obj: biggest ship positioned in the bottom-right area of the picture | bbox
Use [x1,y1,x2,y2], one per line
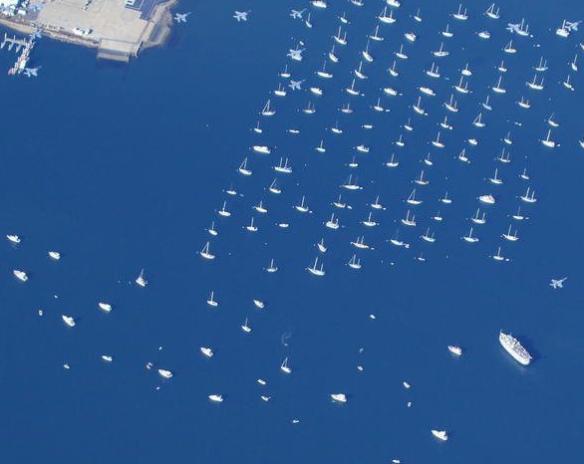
[500,331,533,365]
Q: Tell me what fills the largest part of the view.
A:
water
